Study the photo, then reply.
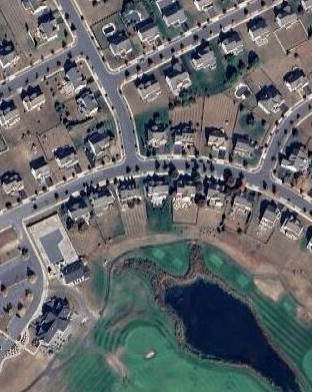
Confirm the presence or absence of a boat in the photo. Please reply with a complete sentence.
No, no boat can be seen from above.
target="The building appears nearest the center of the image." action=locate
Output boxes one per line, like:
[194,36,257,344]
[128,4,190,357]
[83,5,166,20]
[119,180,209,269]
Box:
[149,179,167,203]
